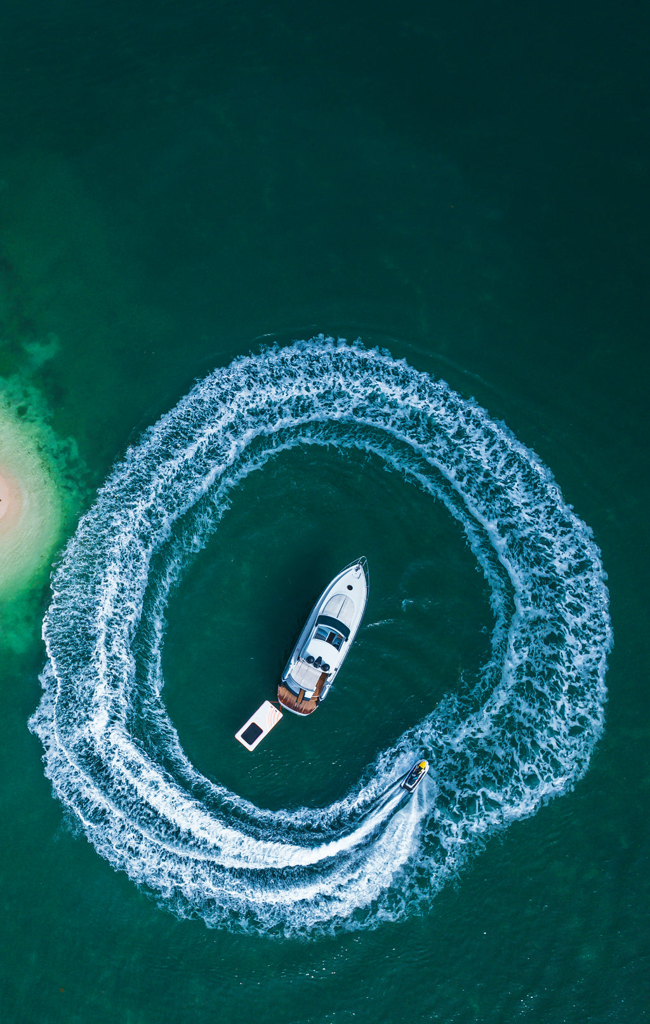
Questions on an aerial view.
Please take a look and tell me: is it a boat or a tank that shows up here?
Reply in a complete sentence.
Of the two, only a boat appears.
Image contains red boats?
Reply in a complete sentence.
No, there appears to be no red boat in this shot.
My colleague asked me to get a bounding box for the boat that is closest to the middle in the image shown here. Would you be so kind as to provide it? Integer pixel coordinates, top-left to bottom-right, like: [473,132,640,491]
[277,557,371,714]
